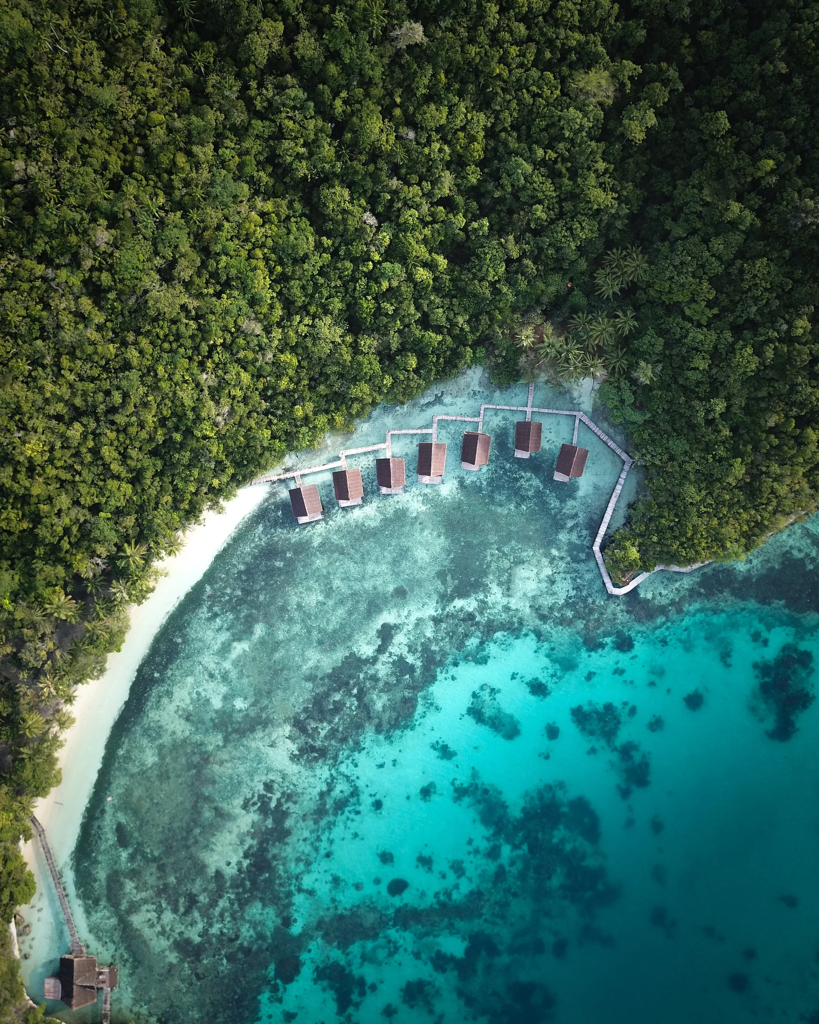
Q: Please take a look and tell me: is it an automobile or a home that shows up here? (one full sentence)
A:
Visible in the photo is a home.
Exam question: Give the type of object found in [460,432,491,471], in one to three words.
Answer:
house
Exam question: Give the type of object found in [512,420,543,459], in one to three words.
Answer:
house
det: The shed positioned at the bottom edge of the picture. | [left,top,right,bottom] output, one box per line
[44,954,121,1010]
